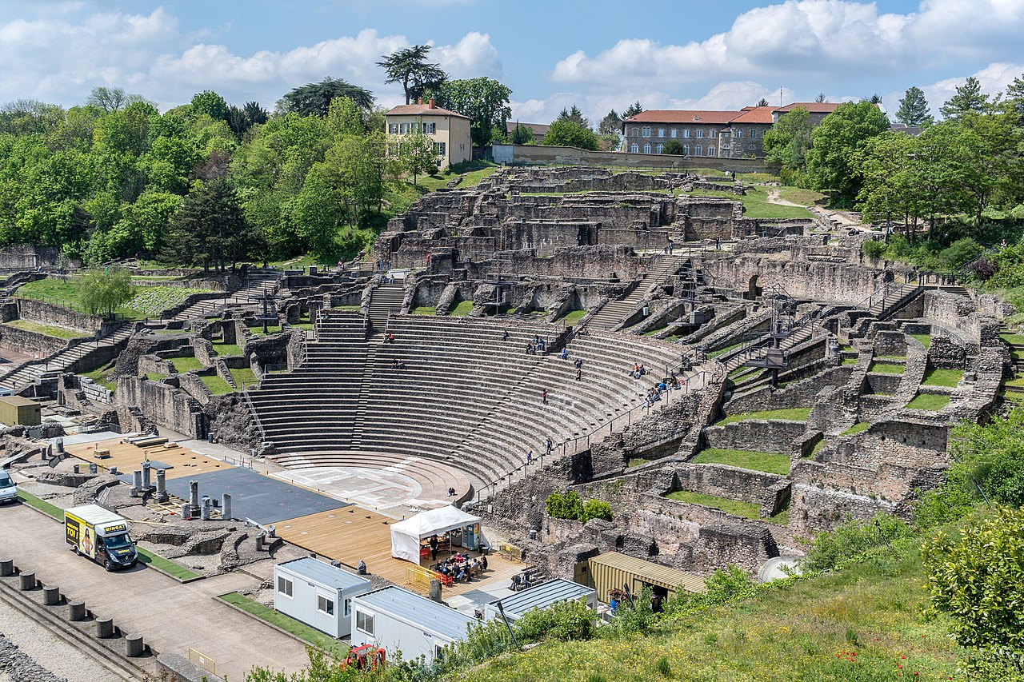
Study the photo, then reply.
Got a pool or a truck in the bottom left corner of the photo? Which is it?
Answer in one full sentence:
It is a truck that can be seen in the bottom left corner of the photo.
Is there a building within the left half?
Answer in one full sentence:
Yes, you'll find a building within the left half.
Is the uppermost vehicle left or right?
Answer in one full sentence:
You can find the uppermost vehicle on the left side of the picture.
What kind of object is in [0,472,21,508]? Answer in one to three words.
vehicle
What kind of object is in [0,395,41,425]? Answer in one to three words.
building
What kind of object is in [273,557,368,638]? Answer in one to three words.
building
